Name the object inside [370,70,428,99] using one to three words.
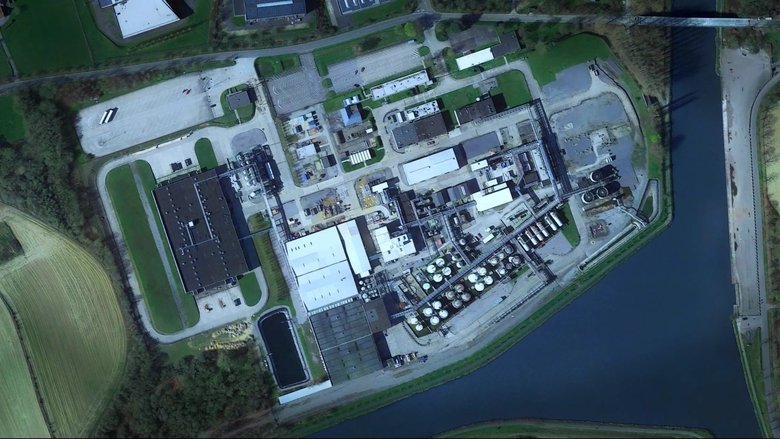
building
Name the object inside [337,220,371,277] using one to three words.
building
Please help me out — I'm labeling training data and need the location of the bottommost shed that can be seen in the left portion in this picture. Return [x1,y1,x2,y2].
[278,381,332,405]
